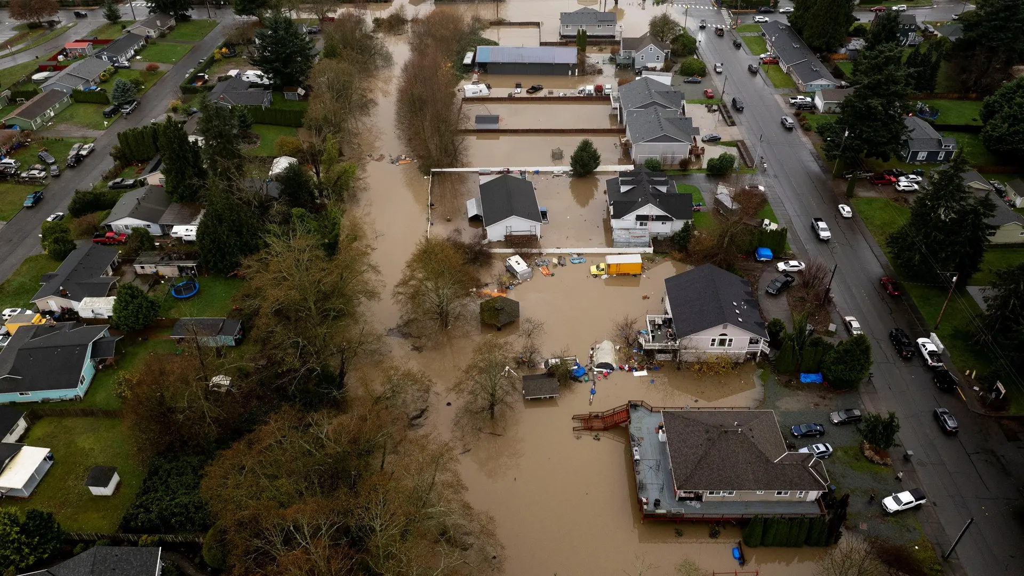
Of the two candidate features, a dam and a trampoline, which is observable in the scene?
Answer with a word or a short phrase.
trampoline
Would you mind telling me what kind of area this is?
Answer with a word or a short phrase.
residential area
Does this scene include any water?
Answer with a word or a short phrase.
Yes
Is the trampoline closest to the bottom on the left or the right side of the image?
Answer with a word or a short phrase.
left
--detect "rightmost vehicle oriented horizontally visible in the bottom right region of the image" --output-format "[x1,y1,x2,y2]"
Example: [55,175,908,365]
[879,484,933,513]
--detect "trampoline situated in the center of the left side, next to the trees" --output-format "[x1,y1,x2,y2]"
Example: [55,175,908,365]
[167,273,199,299]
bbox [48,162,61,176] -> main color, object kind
gray vehicle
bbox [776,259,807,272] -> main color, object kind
white vehicle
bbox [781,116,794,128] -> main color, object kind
gray vehicle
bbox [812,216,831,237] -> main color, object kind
white vehicle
